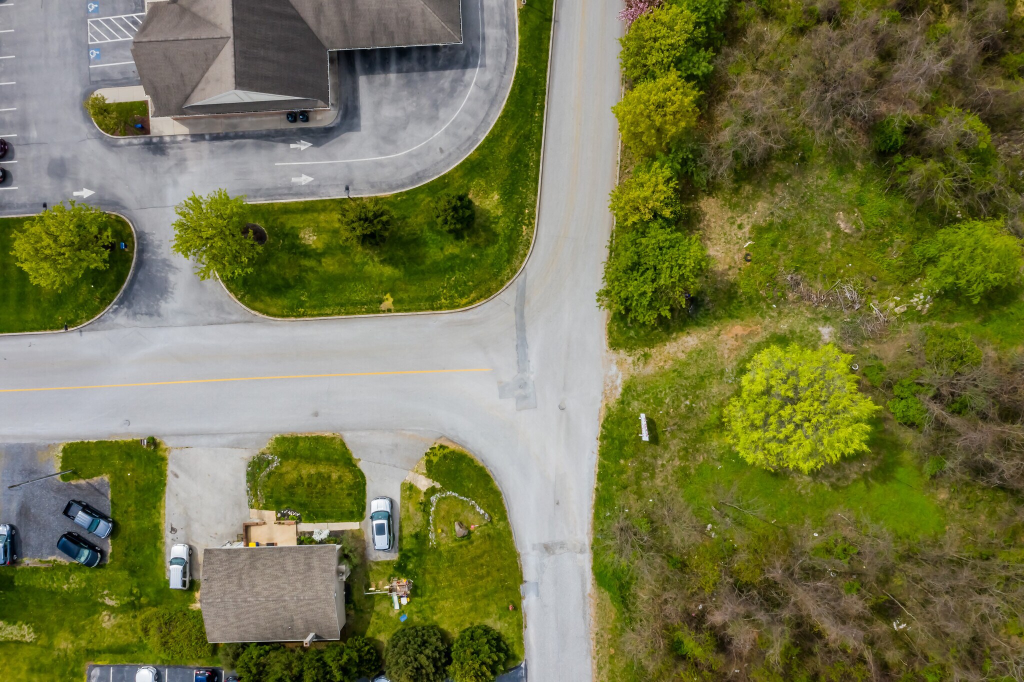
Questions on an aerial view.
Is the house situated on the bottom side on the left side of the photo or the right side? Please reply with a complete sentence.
The house situated on the bottom side appears in the left half of the scene.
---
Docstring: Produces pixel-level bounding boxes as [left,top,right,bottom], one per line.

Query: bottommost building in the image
[197,541,351,650]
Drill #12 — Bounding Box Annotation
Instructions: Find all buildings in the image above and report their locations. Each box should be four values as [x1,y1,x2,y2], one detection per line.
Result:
[127,0,462,121]
[197,541,351,650]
